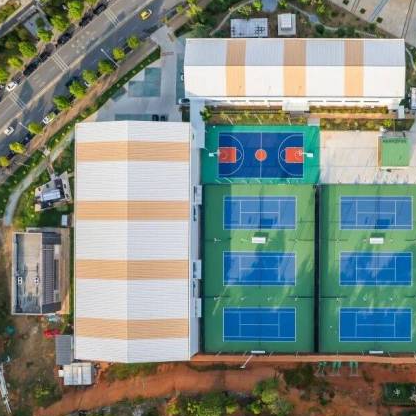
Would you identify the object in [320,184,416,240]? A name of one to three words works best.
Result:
tennis court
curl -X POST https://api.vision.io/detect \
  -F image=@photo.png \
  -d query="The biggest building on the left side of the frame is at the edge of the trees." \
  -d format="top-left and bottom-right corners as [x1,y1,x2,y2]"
[74,120,204,365]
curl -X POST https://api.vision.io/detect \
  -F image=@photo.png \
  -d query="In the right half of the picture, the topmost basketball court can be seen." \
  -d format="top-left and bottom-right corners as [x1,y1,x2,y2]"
[201,125,319,183]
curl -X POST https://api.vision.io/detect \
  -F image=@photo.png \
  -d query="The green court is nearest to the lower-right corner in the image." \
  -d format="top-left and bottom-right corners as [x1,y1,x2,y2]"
[320,298,416,353]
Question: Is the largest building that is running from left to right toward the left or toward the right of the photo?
right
